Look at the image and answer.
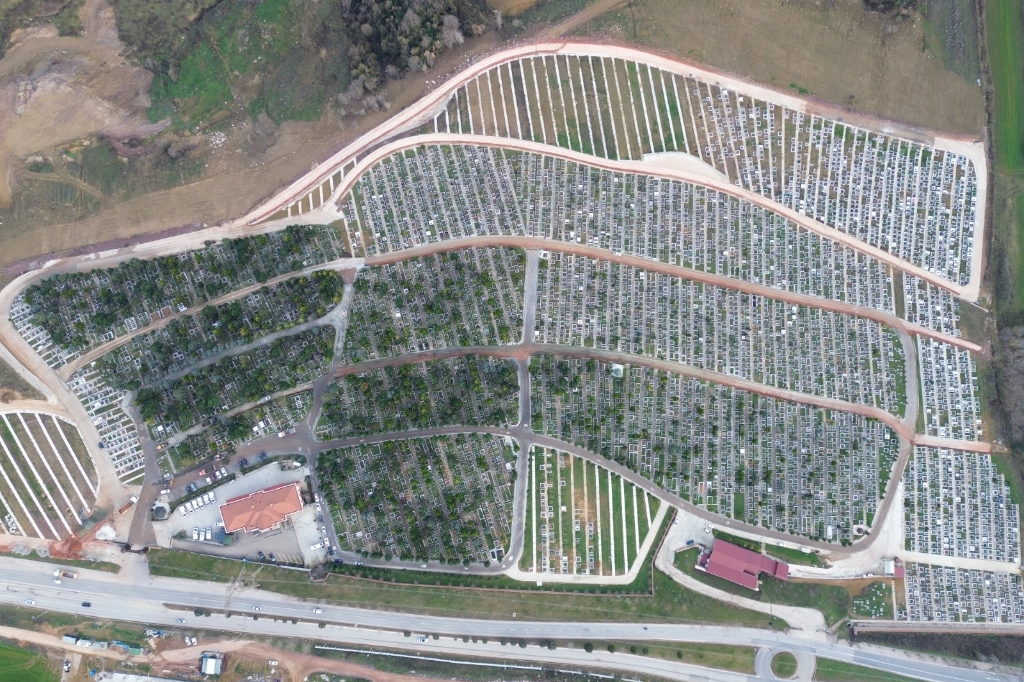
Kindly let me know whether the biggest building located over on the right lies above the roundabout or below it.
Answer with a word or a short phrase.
above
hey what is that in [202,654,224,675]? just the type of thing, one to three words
building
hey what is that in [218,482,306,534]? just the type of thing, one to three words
building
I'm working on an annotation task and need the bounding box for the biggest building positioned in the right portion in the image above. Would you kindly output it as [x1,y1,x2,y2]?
[694,536,789,592]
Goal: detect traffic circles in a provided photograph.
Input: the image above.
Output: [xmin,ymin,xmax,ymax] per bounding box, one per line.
[752,644,817,682]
